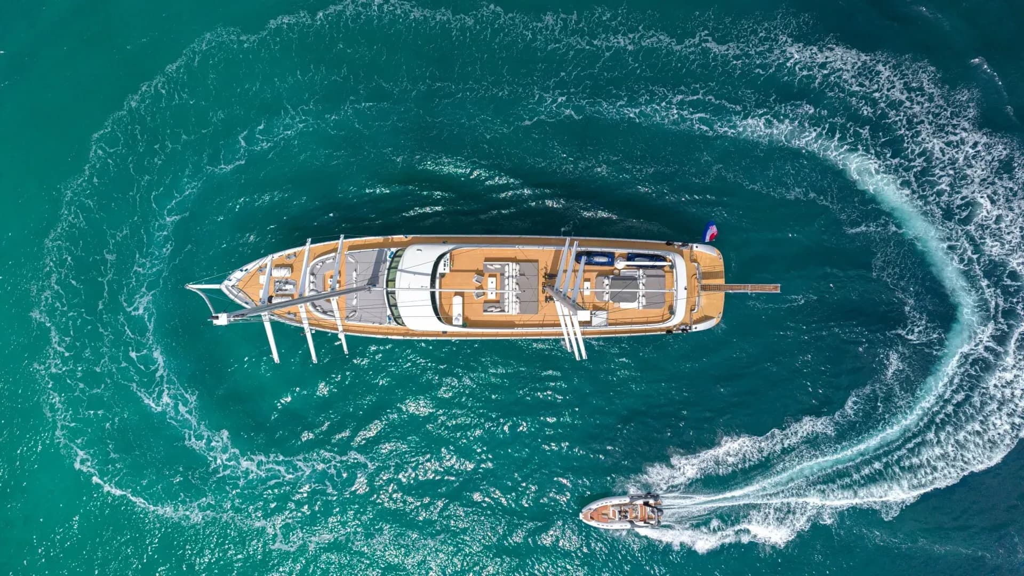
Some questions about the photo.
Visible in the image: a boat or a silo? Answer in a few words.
boat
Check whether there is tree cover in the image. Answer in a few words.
No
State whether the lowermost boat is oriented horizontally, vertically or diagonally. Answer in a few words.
horizontally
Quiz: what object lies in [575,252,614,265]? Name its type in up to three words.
boat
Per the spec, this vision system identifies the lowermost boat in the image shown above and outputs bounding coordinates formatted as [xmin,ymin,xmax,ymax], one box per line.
[580,492,665,529]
